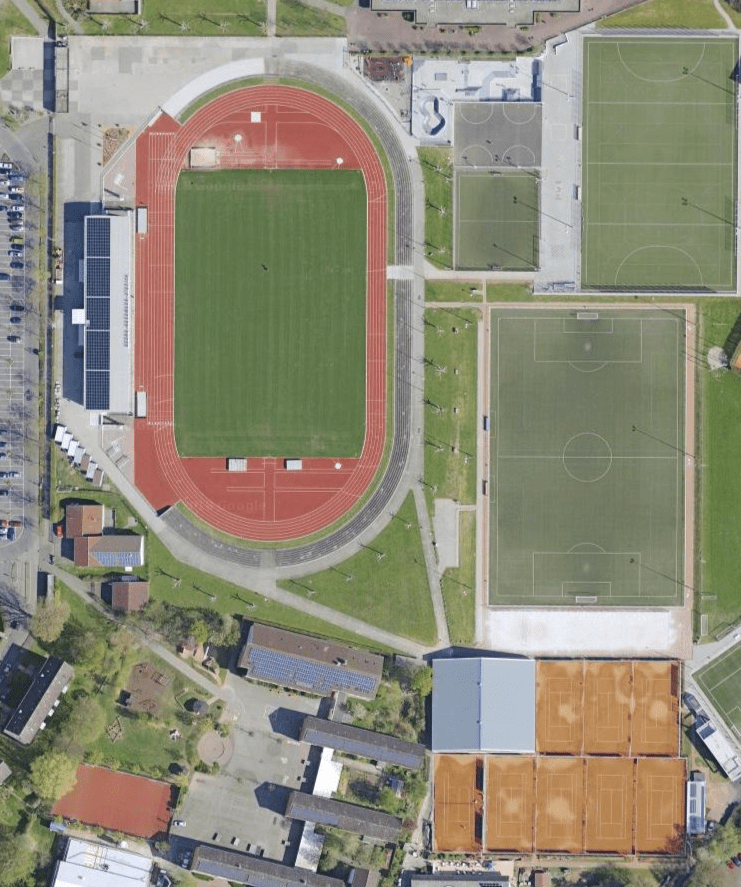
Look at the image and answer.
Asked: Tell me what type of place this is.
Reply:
sports ground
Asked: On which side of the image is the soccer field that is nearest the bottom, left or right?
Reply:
right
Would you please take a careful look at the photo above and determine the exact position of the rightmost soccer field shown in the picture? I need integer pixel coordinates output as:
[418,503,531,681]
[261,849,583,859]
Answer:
[691,641,741,738]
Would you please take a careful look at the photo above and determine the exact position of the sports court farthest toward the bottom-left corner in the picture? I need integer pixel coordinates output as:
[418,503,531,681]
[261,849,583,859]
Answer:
[53,763,174,838]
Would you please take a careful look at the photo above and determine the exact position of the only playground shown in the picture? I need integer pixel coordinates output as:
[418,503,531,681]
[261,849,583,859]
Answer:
[363,57,404,81]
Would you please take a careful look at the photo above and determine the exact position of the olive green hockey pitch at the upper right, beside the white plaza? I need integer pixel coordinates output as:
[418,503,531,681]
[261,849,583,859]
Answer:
[582,37,739,291]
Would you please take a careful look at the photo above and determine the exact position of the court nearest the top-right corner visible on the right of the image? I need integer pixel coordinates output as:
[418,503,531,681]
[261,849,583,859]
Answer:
[453,101,543,167]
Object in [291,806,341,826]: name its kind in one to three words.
solar panel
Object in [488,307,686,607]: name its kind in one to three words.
soccer field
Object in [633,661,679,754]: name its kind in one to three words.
tennis court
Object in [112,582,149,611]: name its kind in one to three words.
house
